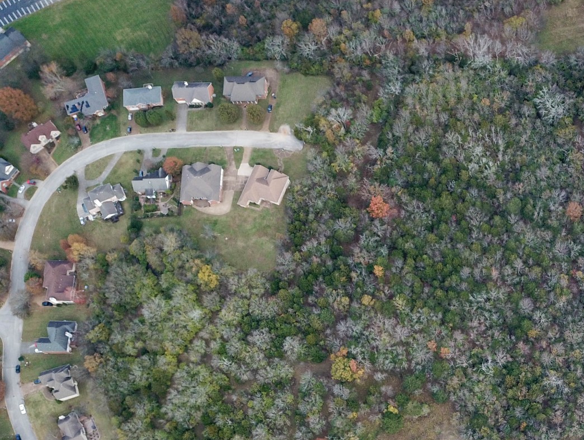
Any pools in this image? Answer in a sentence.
No, there isn't any pool down there.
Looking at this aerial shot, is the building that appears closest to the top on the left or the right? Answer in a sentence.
The building that appears closest to the top appears in the left half of the scene.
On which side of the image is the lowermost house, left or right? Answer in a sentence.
The lowermost house is on the left side of the image.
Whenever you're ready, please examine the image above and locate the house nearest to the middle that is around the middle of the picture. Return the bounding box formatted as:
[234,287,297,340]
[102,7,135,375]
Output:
[239,166,290,208]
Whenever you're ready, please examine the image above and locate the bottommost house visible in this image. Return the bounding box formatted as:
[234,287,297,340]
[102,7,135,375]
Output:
[58,412,101,440]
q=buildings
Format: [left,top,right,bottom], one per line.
[64,75,112,120]
[0,26,31,68]
[34,319,79,353]
[83,184,129,222]
[45,258,78,305]
[222,77,266,104]
[130,168,171,200]
[177,162,224,208]
[58,412,101,440]
[239,166,290,208]
[38,364,84,401]
[123,85,163,110]
[169,82,213,106]
[21,120,63,151]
